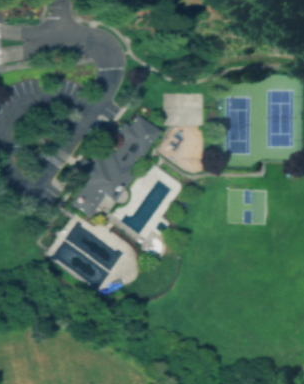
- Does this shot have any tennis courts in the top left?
No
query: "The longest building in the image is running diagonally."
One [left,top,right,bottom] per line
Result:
[67,116,167,219]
